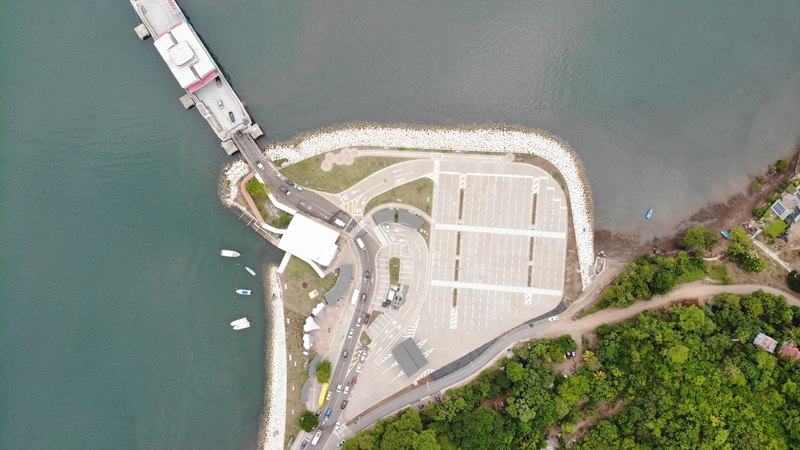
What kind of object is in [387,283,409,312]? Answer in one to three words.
building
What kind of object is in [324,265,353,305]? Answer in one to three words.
building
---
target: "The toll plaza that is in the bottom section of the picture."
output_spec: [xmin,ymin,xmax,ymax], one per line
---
[391,338,428,377]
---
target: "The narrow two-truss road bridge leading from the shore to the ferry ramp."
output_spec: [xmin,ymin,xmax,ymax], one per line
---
[230,130,270,172]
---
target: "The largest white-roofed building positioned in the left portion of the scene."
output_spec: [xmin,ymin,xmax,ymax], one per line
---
[277,212,339,267]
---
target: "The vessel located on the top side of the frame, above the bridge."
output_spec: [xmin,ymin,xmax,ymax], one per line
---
[130,0,252,141]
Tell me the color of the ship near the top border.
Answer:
white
